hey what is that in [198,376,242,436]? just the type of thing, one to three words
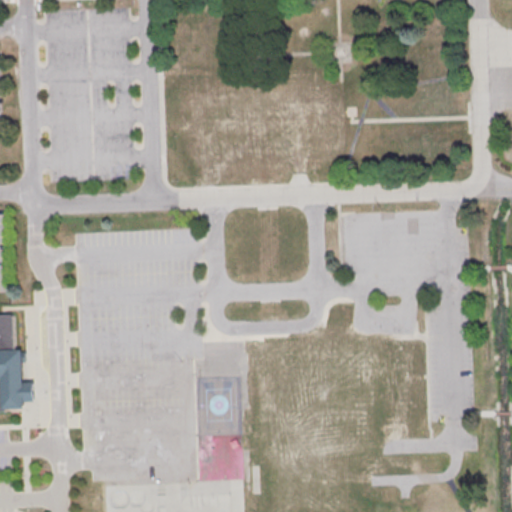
sports court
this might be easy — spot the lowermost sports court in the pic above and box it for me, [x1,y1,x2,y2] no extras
[200,436,244,481]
